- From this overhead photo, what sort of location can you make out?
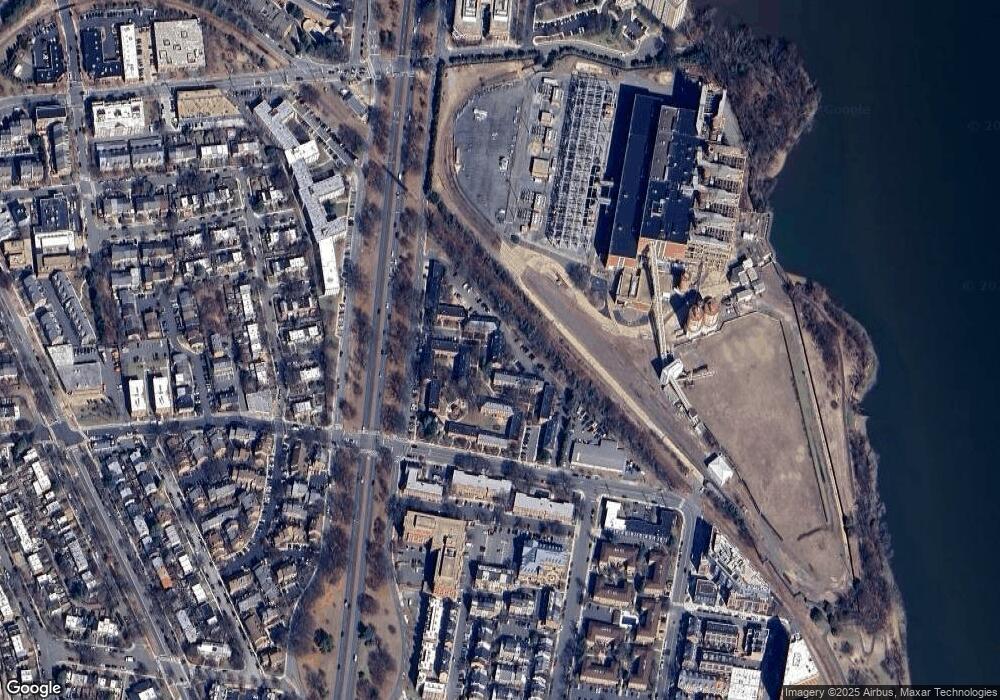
residential area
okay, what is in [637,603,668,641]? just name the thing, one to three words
house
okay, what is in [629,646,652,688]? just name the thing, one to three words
house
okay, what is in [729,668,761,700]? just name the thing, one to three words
building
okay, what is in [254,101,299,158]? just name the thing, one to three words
building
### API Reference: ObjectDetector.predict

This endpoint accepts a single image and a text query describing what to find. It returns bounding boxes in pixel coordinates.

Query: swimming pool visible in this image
[620,614,638,629]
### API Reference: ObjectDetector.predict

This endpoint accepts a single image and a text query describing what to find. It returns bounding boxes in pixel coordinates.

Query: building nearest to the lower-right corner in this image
[782,635,824,700]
